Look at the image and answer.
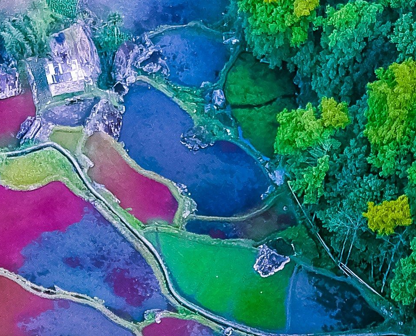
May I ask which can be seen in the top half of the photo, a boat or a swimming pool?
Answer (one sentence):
The feature located in the top half of the photo is a swimming pool.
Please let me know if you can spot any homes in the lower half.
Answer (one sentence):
No, in the lower half there is no home.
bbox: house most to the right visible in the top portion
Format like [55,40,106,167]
[48,27,104,104]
